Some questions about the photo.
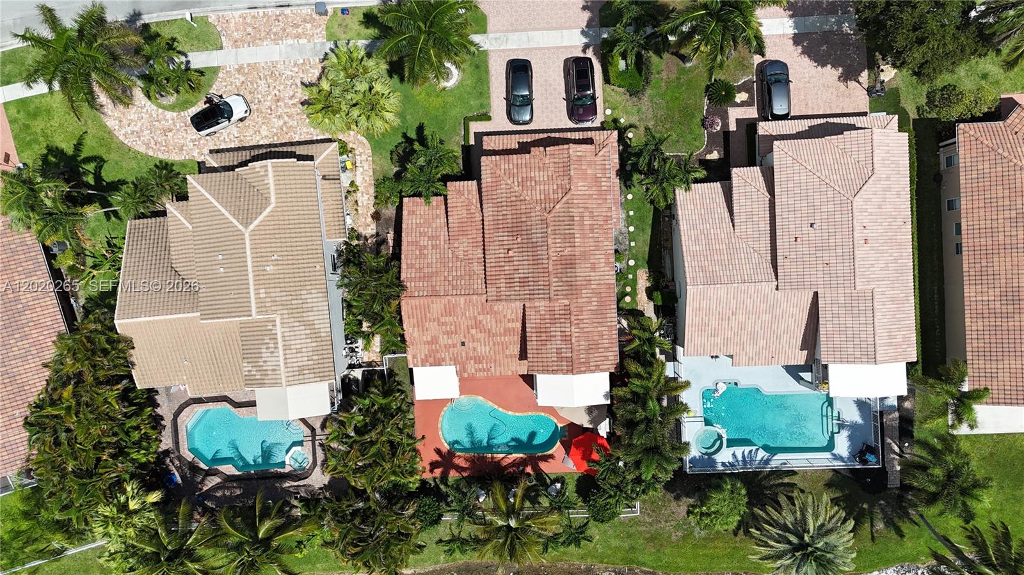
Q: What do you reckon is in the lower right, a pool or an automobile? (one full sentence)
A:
You can see a pool in the lower right.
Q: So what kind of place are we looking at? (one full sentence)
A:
What you see here is a residential area.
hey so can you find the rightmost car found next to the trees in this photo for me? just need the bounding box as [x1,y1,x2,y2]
[762,56,795,118]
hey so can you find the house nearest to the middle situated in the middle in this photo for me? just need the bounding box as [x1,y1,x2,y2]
[401,128,621,378]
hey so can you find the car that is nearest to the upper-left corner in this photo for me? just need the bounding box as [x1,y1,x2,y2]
[187,90,249,135]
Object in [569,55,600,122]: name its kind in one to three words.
car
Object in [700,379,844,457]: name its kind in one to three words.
swimming pool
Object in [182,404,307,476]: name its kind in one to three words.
swimming pool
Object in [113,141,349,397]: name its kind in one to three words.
house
